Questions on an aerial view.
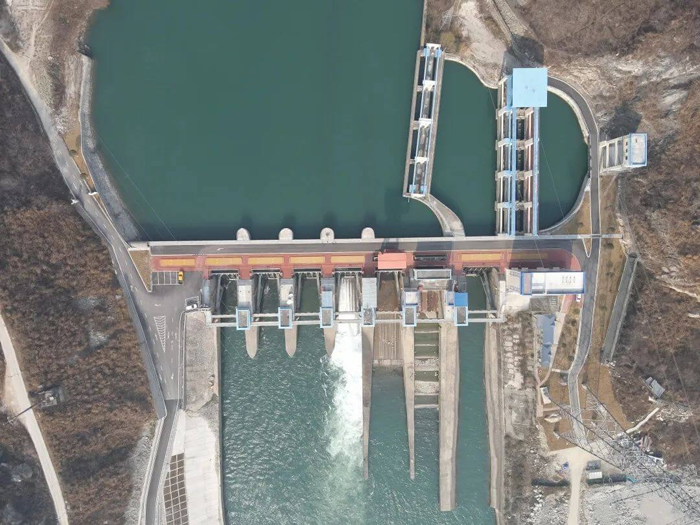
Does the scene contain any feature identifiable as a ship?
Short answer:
No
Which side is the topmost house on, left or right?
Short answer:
right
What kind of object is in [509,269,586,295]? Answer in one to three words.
building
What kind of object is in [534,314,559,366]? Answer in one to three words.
house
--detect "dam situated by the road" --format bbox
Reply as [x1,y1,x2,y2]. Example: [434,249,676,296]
[128,228,622,511]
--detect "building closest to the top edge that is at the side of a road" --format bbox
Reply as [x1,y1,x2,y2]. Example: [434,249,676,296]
[497,68,547,108]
